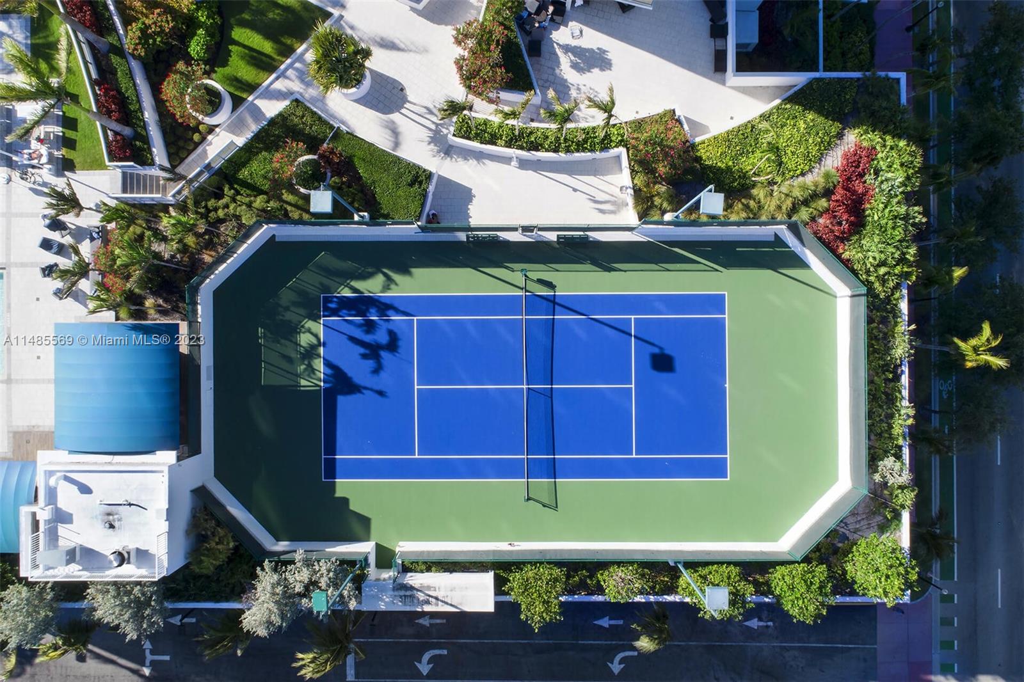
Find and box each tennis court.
[213,229,839,571]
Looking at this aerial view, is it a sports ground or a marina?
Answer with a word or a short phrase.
sports ground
